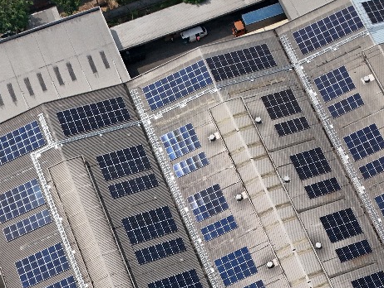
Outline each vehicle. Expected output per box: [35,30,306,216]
[181,31,208,50]
[234,5,277,34]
